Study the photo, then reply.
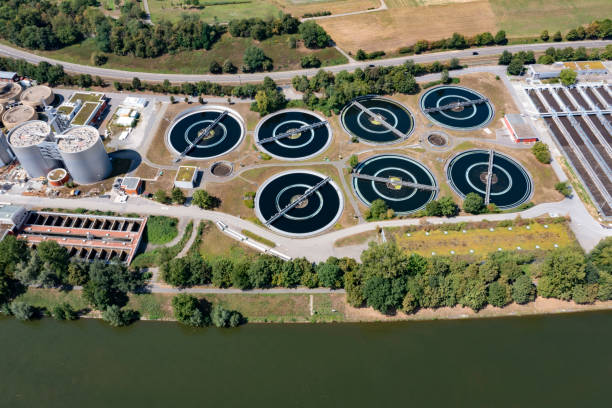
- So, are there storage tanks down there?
Yes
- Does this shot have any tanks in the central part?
Yes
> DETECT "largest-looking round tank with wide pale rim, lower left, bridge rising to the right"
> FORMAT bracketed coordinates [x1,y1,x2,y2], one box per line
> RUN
[255,170,344,236]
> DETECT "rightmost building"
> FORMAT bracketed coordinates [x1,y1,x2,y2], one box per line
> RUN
[564,62,606,76]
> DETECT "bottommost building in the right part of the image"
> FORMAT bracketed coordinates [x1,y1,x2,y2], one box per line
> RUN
[504,113,536,143]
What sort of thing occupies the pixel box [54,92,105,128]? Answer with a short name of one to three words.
building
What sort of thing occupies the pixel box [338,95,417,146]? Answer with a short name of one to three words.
storage tank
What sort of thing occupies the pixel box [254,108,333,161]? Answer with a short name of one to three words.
storage tank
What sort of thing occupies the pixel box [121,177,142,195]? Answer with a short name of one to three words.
building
